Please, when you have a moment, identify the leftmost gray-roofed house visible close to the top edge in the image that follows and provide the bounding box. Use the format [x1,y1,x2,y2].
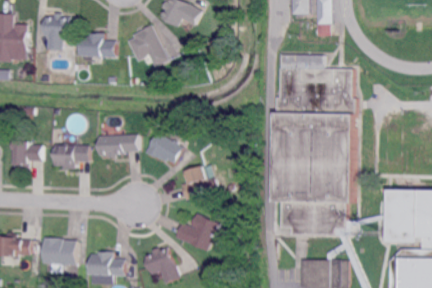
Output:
[0,13,28,62]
